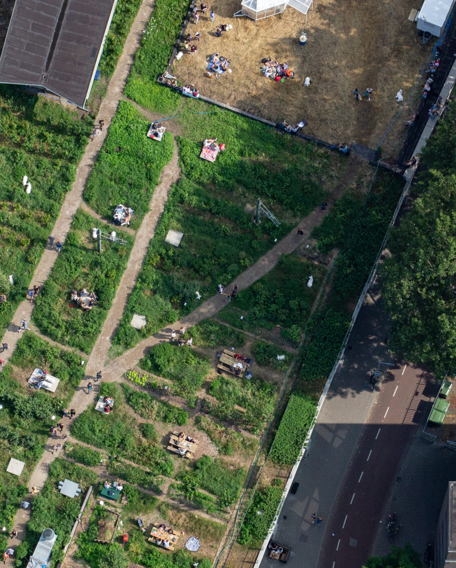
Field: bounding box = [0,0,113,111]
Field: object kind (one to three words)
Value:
shed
